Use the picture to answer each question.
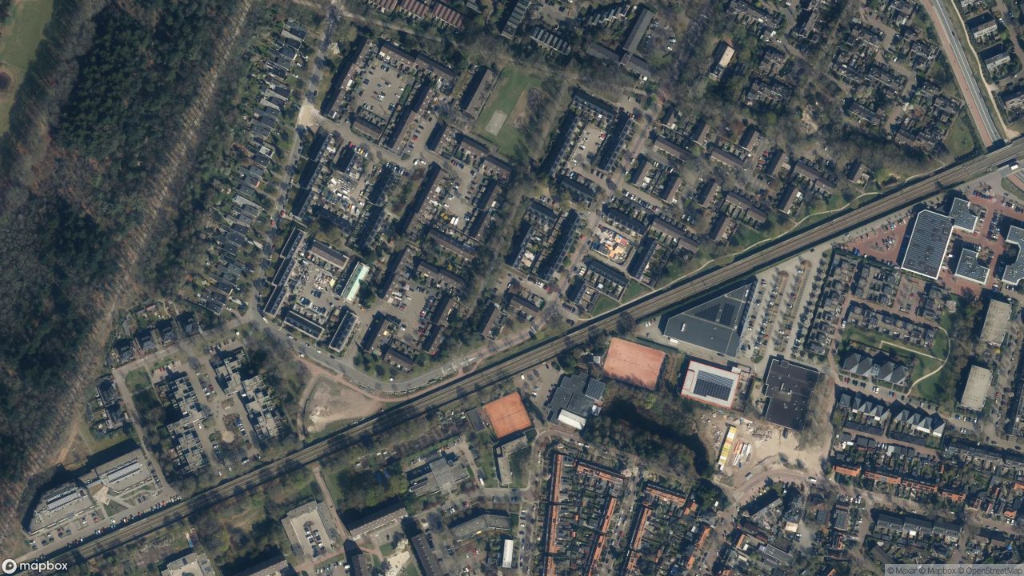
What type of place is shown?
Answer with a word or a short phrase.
residential area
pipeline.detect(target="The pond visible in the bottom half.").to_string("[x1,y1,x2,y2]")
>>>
[616,399,709,473]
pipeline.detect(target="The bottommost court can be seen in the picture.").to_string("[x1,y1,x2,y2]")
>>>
[482,392,532,438]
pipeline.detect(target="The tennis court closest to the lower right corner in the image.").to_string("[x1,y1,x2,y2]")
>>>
[604,337,666,389]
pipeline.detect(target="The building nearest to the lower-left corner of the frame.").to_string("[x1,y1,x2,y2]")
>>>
[24,482,96,536]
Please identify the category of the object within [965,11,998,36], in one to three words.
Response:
house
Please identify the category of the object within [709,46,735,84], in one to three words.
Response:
building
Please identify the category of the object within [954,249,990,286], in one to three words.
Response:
building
